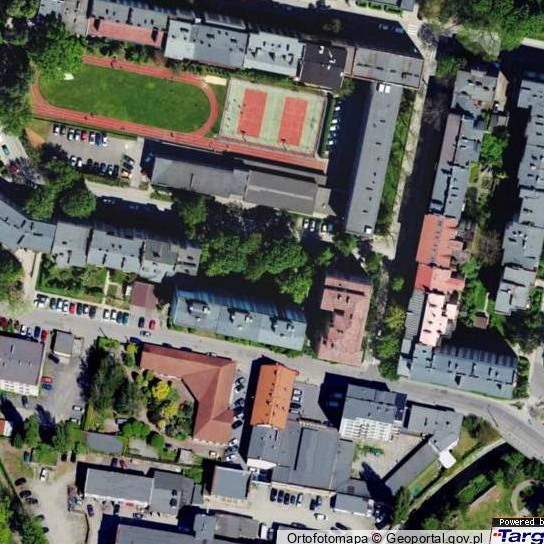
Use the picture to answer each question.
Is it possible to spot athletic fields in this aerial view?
Yes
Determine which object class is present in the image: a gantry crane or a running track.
running track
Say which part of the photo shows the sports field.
top left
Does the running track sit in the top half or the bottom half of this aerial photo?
top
